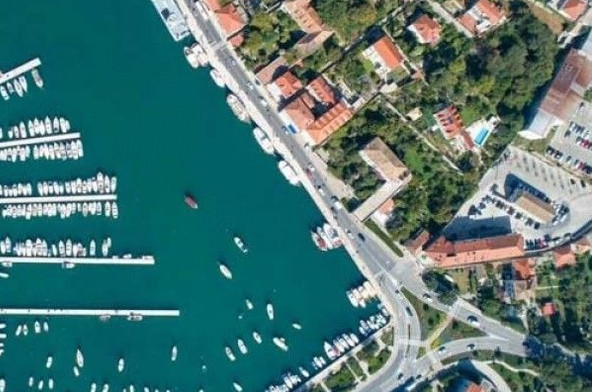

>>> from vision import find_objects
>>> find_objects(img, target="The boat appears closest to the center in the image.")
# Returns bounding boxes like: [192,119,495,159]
[276,157,298,184]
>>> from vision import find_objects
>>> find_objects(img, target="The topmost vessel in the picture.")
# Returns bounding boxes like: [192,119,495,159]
[152,0,191,43]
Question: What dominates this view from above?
water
